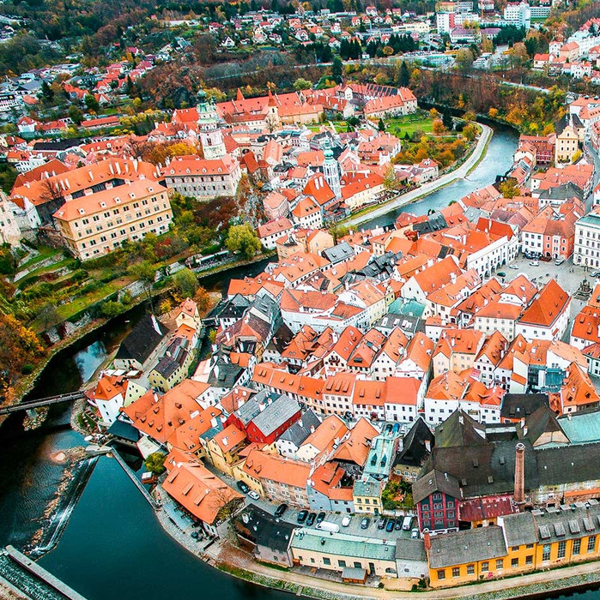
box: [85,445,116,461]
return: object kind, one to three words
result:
pier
